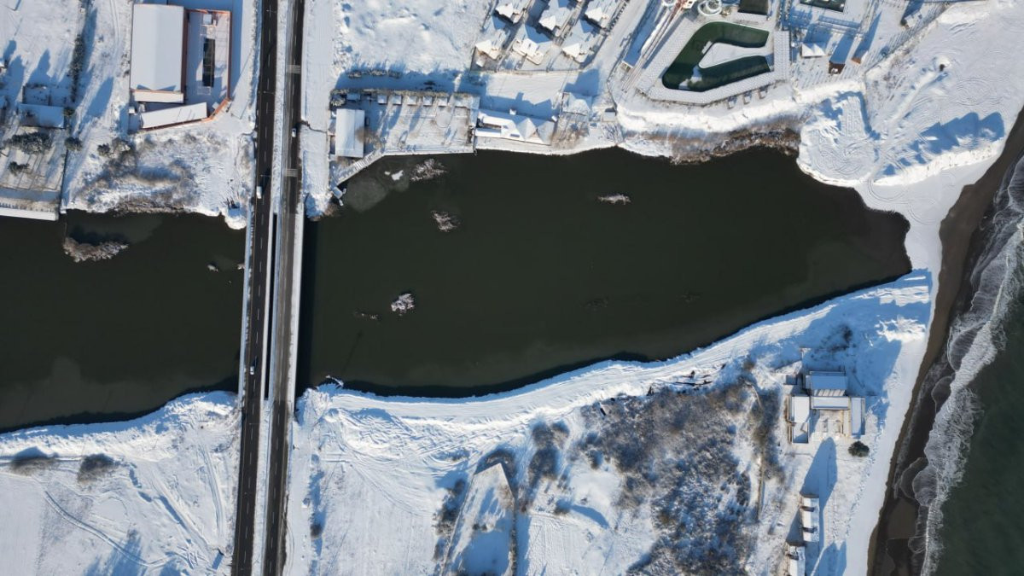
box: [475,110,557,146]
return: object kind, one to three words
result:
house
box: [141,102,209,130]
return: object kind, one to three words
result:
shed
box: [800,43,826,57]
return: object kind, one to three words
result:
building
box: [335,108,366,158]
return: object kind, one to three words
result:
house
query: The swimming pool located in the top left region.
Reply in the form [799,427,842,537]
[202,37,216,87]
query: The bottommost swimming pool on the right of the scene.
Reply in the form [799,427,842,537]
[660,18,774,95]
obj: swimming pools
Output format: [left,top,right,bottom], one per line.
[660,18,774,95]
[202,37,216,87]
[797,0,848,16]
[734,0,771,18]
